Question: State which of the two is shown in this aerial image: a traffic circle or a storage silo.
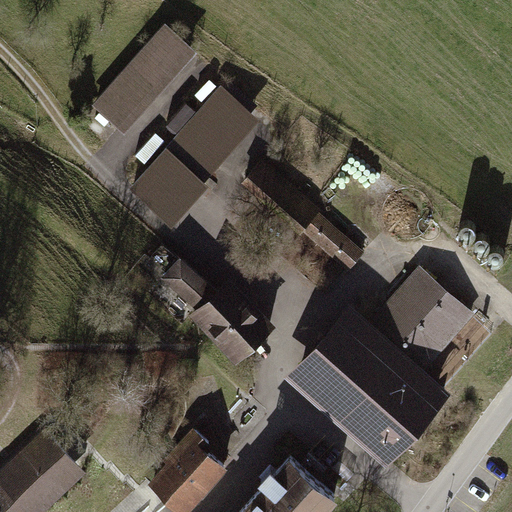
storage silo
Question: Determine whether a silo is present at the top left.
No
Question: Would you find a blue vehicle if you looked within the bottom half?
Yes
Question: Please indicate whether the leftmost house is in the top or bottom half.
bottom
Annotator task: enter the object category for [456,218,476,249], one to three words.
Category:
silo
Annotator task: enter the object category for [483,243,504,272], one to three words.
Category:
silo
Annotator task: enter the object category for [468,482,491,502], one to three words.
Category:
car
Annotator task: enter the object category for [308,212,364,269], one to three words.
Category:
house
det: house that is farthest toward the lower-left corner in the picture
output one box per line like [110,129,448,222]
[0,432,86,512]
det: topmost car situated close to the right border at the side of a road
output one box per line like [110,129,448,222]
[485,460,508,480]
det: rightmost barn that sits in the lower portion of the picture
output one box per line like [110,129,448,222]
[386,266,473,352]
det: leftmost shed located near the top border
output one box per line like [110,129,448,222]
[92,24,197,134]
